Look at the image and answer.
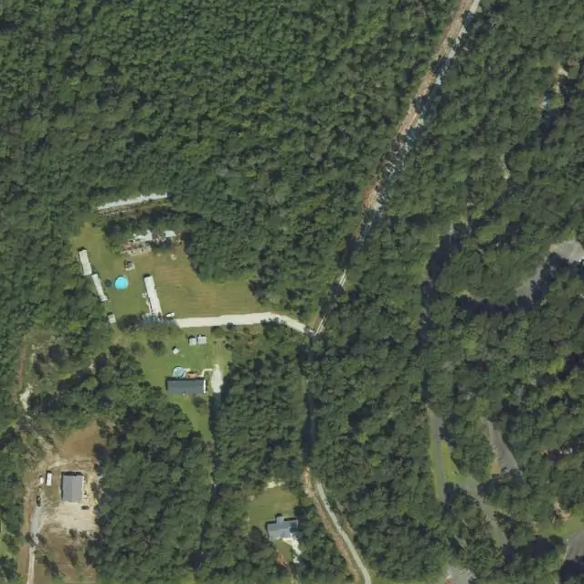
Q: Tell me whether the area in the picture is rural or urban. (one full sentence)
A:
The area shown here is rural.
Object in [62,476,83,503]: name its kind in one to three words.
building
